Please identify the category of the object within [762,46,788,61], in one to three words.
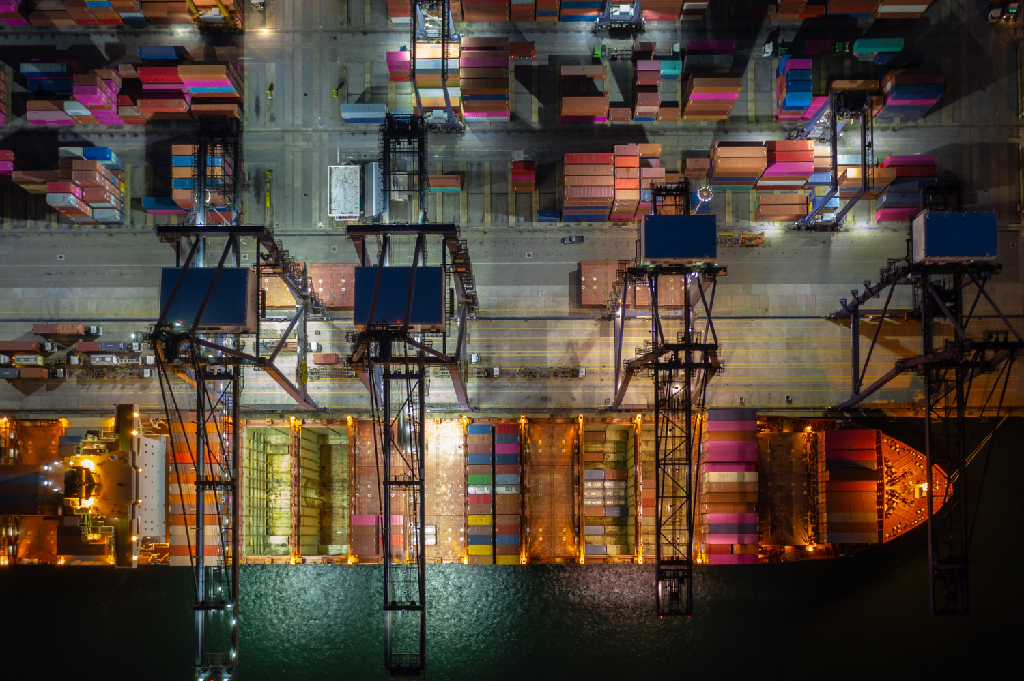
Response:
vehicle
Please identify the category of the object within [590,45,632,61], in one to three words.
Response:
vehicle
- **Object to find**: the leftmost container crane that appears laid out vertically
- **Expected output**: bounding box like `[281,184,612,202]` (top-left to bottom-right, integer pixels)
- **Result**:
[131,110,341,679]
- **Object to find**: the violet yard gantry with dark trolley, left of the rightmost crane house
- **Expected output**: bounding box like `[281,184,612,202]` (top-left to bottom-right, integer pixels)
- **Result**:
[791,80,872,227]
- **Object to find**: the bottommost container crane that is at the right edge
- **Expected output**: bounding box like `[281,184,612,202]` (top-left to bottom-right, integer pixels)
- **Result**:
[815,163,1024,617]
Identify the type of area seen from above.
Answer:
port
